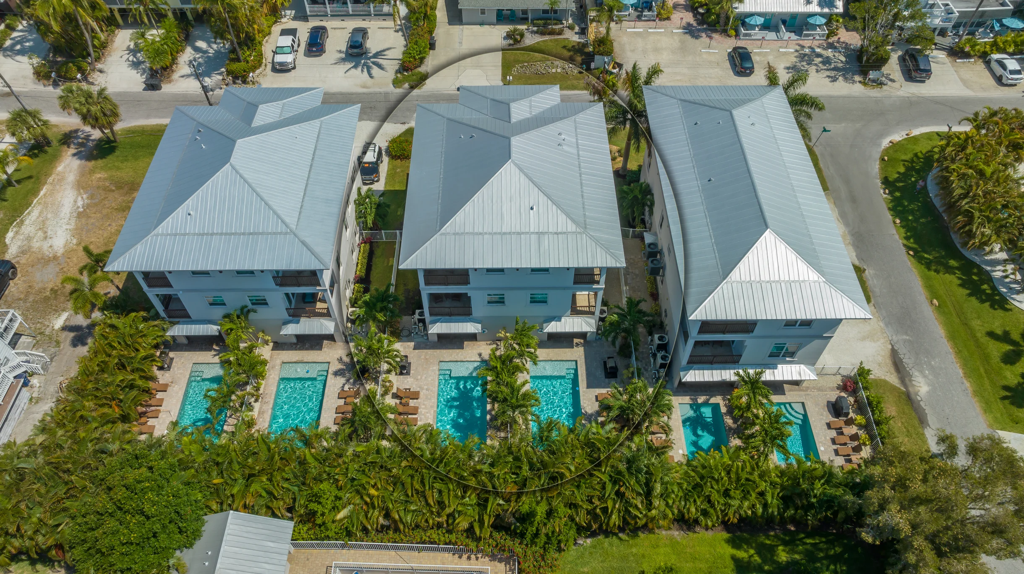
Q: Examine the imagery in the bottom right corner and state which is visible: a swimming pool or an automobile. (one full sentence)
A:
There is a swimming pool in the bottom right corner.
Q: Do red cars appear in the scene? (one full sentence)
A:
No, no red car is visible in the scene.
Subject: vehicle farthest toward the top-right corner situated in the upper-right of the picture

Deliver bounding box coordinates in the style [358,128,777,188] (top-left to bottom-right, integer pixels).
[990,51,1024,80]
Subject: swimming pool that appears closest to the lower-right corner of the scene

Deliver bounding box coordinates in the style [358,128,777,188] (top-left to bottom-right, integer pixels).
[767,398,829,488]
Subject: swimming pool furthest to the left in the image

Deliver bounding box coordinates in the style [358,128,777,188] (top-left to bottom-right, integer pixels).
[164,359,235,457]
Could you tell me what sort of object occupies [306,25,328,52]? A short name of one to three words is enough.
car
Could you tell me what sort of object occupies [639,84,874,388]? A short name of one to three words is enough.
house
